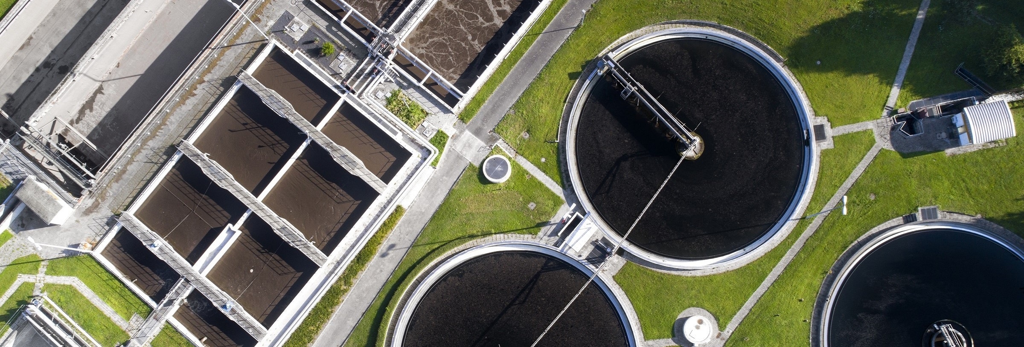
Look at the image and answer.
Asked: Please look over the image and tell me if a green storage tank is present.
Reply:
No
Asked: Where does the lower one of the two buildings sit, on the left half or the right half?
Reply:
left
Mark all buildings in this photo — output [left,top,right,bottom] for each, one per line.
[953,100,1015,148]
[15,175,76,224]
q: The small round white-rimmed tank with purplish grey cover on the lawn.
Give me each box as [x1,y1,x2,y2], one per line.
[483,154,511,183]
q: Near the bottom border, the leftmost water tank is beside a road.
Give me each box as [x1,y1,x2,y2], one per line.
[390,239,641,347]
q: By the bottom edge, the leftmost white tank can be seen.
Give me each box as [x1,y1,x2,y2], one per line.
[682,316,713,347]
